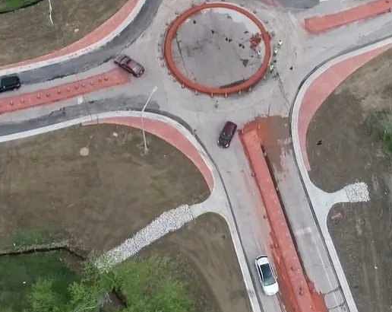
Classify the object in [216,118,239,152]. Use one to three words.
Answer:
car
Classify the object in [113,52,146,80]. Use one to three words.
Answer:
car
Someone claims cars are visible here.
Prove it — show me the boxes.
[254,255,279,297]
[216,118,239,152]
[0,75,22,93]
[113,52,146,80]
